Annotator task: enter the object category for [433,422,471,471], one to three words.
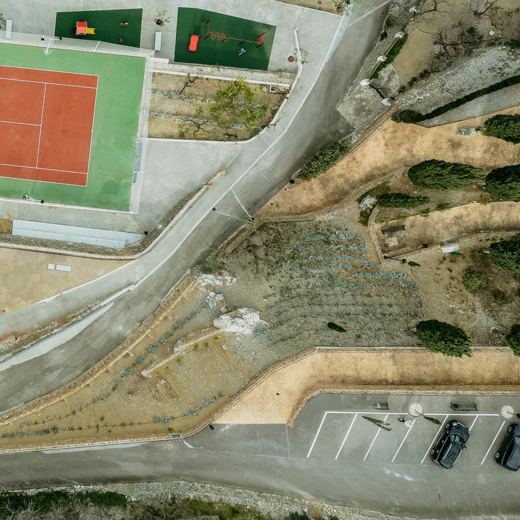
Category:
car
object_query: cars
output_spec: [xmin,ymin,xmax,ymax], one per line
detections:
[433,422,471,471]
[497,424,520,473]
